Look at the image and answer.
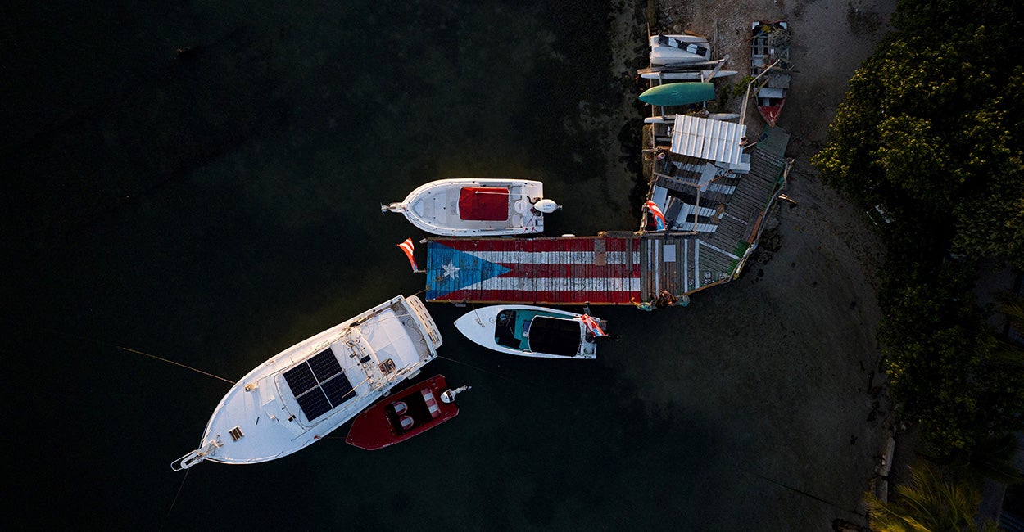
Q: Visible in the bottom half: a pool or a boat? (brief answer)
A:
boat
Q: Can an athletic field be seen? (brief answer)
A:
No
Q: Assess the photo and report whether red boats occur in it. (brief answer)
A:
Yes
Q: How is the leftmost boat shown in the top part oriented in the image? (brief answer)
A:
from side to side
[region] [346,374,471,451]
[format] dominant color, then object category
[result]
red boat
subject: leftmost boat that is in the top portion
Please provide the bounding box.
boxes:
[380,178,561,236]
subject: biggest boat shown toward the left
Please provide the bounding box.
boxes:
[171,295,443,472]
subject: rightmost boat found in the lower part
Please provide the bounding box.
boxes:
[454,305,619,359]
